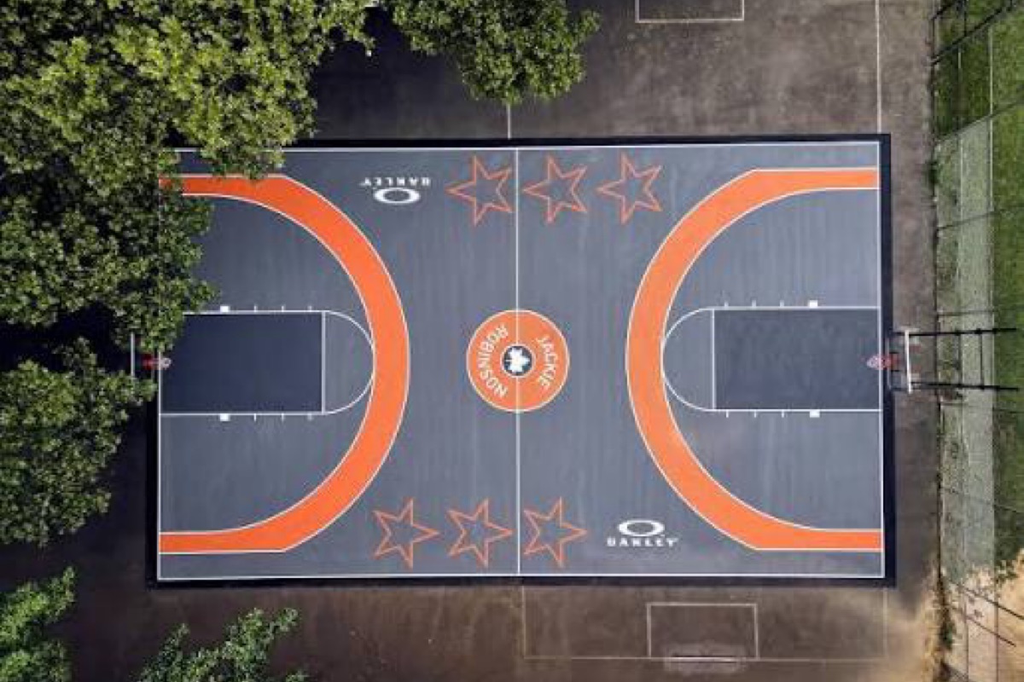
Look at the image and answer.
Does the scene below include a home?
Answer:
No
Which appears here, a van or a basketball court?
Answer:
basketball court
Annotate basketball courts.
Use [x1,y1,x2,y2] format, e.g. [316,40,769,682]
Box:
[148,134,896,588]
